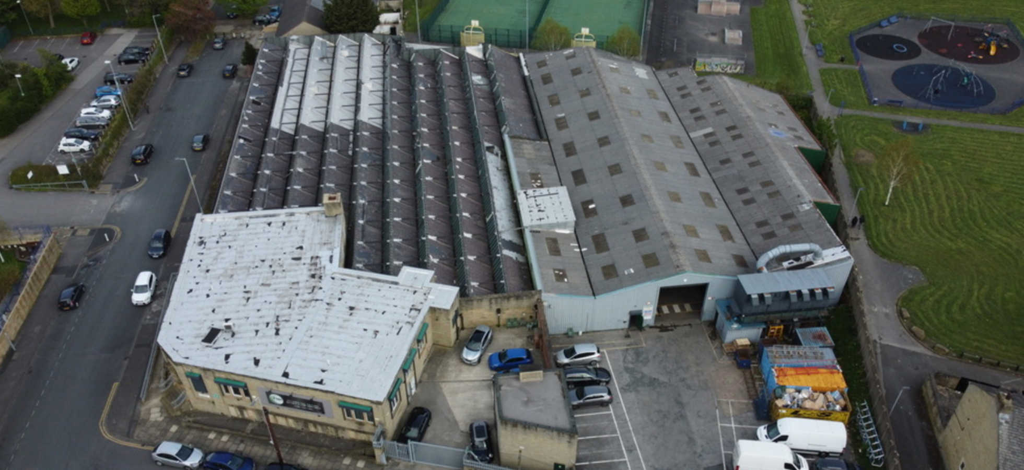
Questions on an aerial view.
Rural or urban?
urban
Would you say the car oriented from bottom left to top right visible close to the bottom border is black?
Yes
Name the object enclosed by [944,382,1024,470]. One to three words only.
house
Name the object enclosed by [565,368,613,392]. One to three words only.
car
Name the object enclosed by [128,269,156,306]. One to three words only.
car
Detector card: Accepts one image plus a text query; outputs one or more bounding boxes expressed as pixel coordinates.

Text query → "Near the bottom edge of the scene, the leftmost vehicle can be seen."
[148,445,203,470]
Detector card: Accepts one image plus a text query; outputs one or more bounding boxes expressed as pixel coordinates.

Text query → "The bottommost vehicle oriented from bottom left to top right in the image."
[396,398,435,448]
